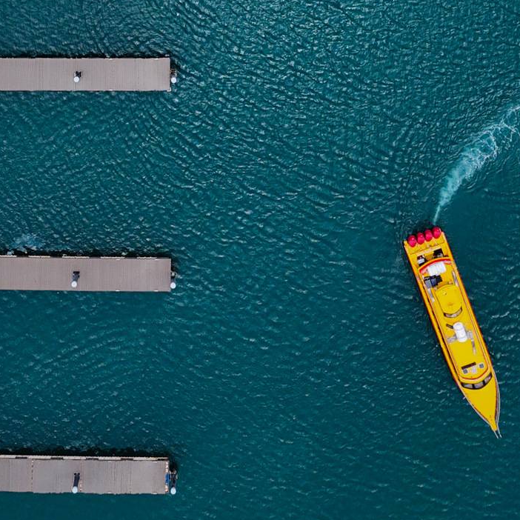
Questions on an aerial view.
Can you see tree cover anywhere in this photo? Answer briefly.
No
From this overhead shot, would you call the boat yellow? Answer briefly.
Yes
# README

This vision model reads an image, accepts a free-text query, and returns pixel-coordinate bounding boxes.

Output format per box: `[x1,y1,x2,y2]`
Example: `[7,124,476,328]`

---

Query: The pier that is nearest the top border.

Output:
[0,52,172,91]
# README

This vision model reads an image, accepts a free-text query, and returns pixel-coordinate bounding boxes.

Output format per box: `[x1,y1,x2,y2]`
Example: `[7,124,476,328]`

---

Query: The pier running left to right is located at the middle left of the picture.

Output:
[0,250,172,291]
